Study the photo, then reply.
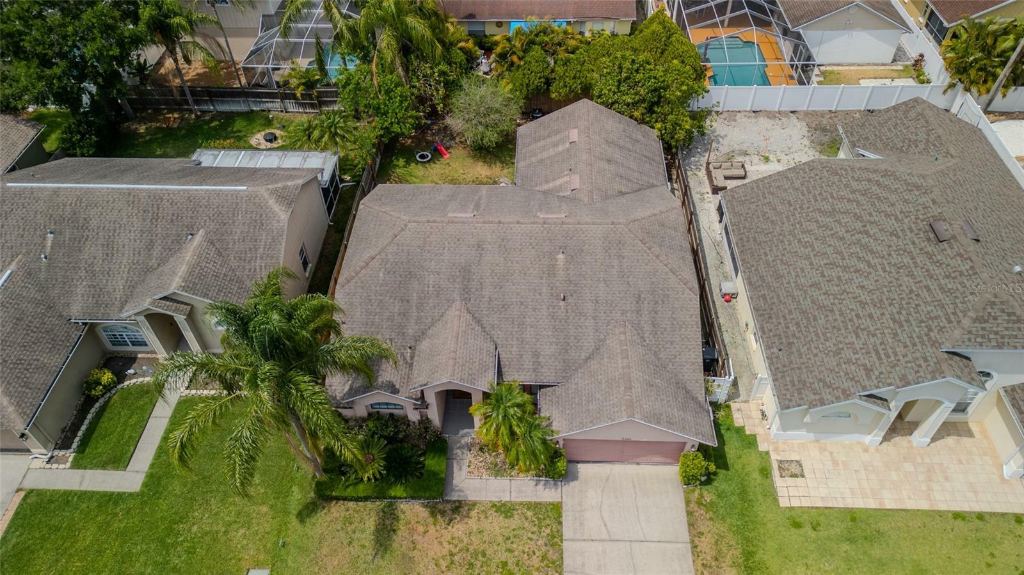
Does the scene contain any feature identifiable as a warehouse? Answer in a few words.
No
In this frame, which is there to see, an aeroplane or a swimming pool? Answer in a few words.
swimming pool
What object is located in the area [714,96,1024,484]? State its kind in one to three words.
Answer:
house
